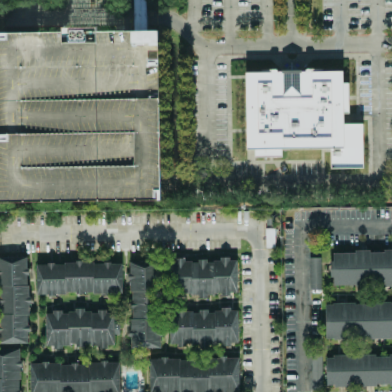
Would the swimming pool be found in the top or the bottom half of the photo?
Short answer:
bottom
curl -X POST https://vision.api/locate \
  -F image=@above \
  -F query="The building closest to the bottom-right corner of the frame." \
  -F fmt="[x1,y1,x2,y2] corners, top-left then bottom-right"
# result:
[326,356,392,391]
